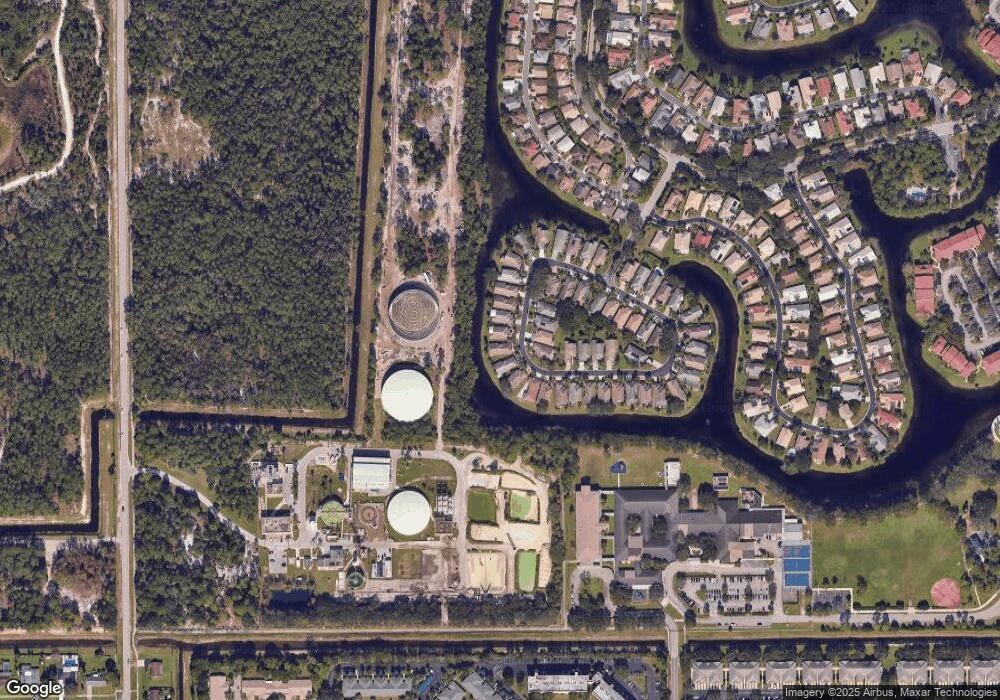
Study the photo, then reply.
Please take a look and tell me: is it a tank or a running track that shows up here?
tank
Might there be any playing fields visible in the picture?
Yes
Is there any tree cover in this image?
Yes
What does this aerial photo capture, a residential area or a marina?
residential area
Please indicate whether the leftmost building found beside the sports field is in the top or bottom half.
bottom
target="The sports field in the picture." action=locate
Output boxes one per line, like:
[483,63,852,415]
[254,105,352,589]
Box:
[813,500,978,609]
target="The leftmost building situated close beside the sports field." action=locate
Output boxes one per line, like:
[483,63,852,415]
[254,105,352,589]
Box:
[600,484,785,589]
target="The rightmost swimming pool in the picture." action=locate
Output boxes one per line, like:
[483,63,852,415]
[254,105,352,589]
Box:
[908,188,928,201]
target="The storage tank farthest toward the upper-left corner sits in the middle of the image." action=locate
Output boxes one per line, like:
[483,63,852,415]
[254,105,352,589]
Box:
[386,287,441,343]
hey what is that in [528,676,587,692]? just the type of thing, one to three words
building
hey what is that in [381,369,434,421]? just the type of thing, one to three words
storage tank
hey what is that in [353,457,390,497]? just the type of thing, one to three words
shed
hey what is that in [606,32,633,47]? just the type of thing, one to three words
house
